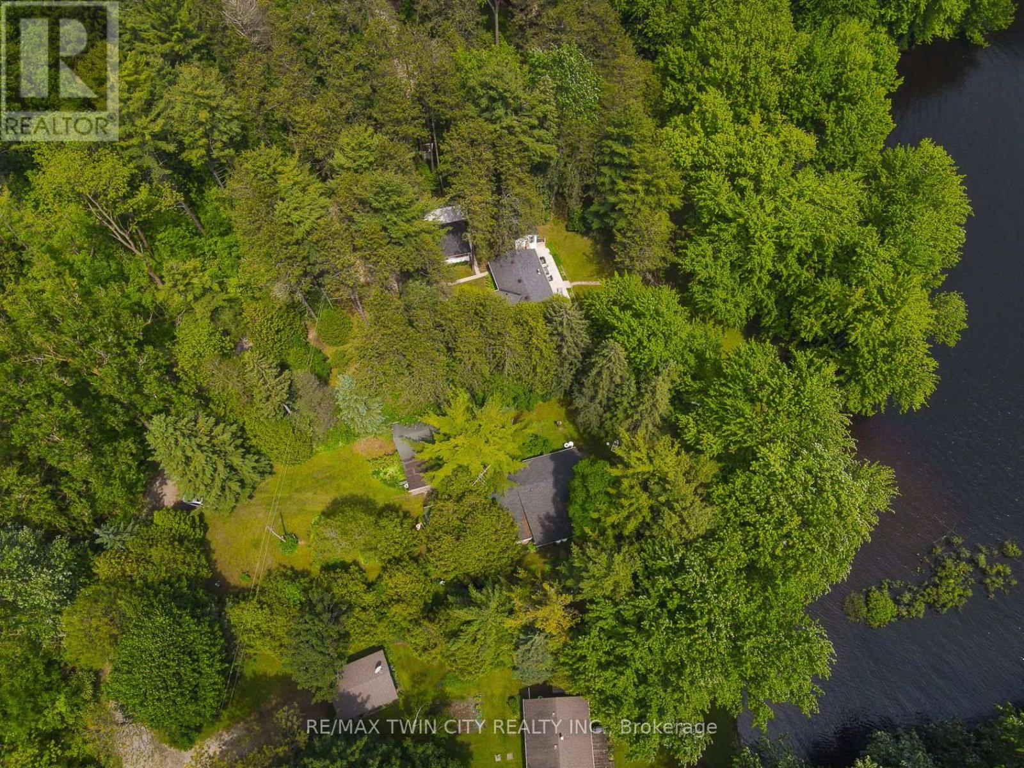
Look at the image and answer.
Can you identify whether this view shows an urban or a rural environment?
rural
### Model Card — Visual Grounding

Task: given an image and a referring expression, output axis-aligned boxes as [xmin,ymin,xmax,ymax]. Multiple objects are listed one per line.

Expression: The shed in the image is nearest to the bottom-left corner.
[323,647,399,718]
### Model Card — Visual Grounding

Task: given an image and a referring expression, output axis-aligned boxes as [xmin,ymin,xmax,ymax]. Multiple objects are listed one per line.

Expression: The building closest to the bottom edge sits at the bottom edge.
[522,695,595,768]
